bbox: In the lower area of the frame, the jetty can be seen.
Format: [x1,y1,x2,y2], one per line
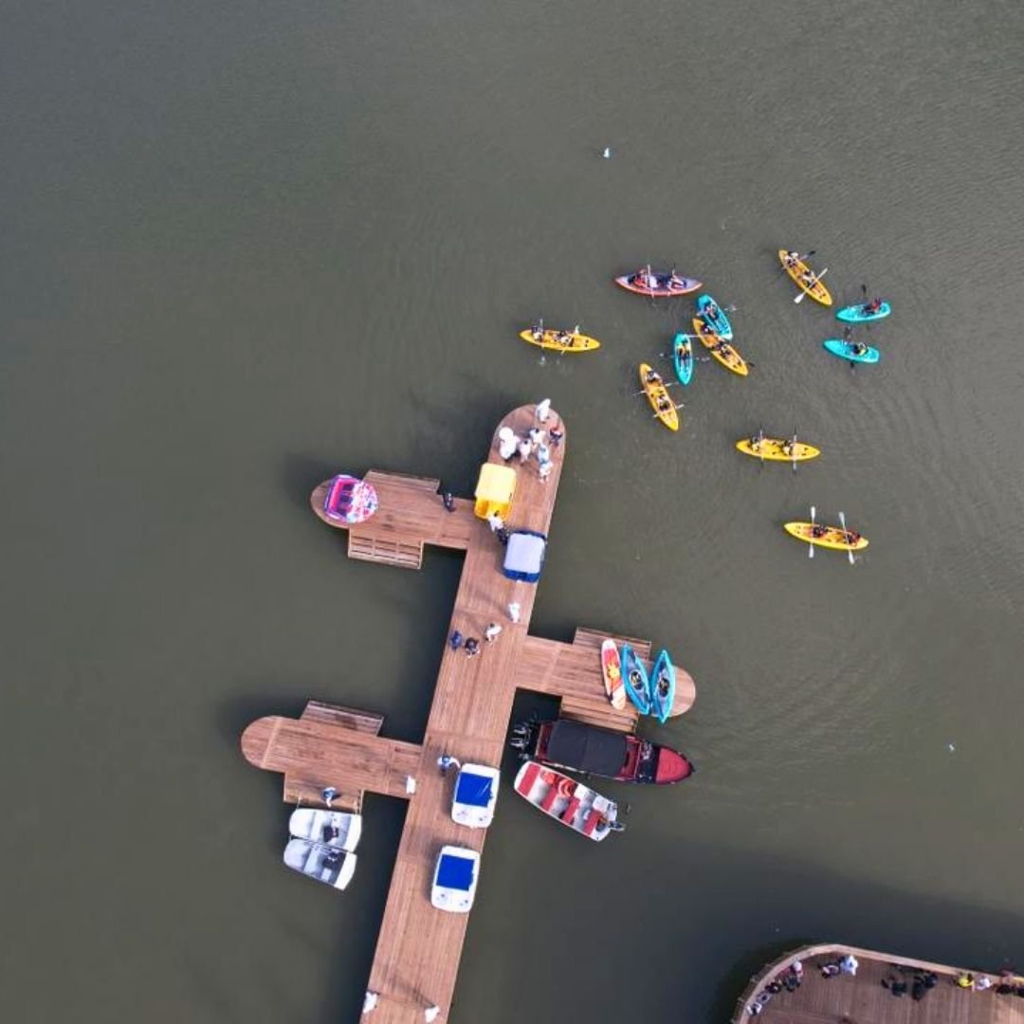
[241,406,695,1024]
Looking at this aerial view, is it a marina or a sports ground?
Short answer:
marina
